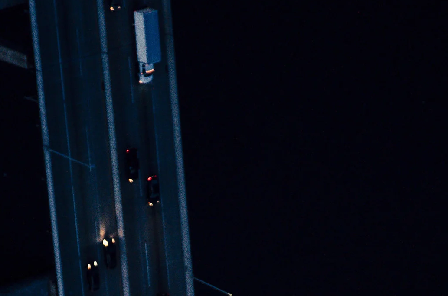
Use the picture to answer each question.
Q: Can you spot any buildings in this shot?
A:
No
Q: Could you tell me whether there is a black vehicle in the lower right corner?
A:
No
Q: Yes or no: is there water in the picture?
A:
Yes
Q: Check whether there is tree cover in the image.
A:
No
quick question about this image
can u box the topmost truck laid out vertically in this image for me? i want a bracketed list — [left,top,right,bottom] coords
[131,6,161,82]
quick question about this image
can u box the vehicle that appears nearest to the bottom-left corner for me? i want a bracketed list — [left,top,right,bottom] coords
[85,262,100,293]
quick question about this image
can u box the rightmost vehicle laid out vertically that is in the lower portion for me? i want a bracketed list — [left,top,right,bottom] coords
[145,174,160,206]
